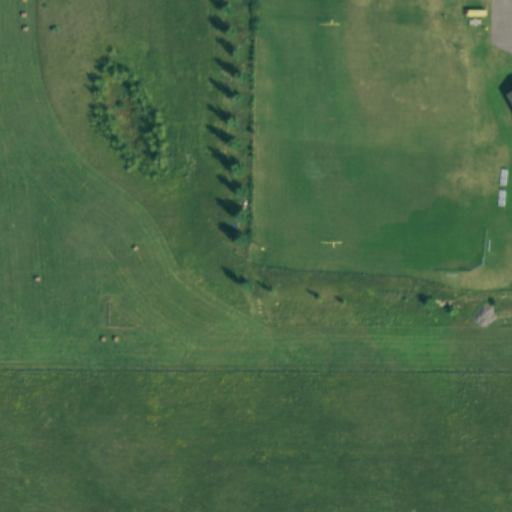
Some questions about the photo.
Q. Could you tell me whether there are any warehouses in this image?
No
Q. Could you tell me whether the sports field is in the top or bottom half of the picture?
top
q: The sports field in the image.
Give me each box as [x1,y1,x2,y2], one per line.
[251,0,487,271]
